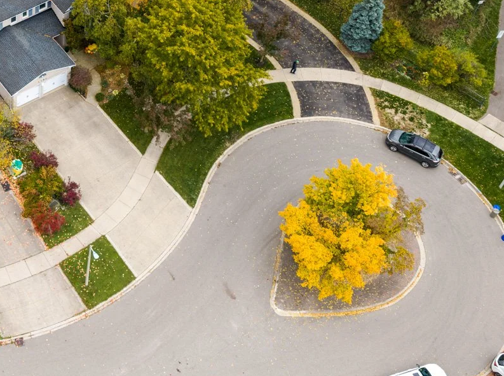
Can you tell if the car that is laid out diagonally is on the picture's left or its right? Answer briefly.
right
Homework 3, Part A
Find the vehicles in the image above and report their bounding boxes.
[381,360,447,376]
[382,122,447,171]
[484,342,504,376]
